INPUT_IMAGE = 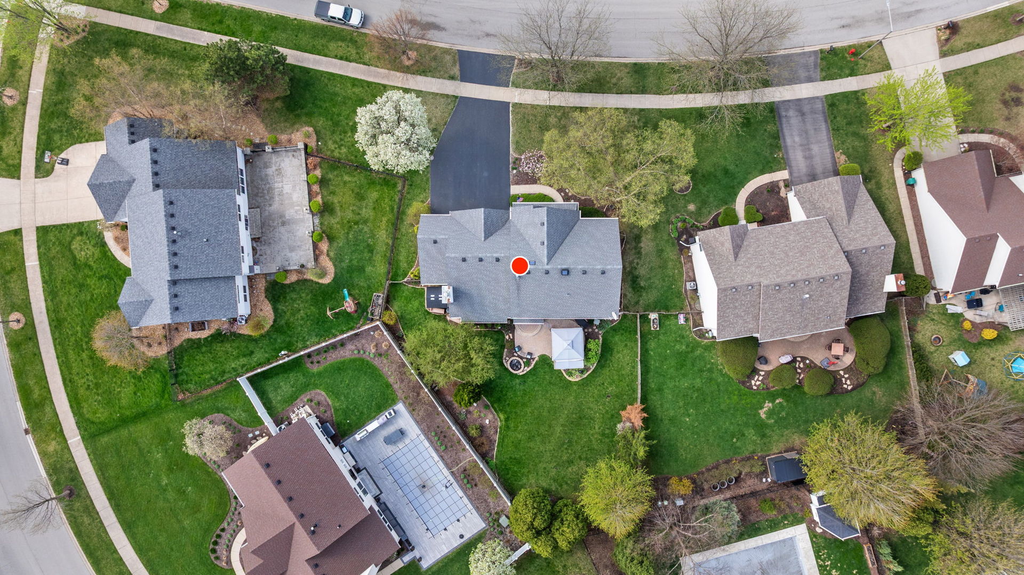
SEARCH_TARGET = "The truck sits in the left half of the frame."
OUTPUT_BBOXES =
[311,0,367,29]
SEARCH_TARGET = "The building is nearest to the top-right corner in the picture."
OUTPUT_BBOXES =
[910,149,1024,294]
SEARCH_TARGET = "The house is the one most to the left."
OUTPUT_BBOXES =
[87,118,268,328]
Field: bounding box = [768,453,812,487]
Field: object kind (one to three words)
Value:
shed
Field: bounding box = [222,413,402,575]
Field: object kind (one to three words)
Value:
house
